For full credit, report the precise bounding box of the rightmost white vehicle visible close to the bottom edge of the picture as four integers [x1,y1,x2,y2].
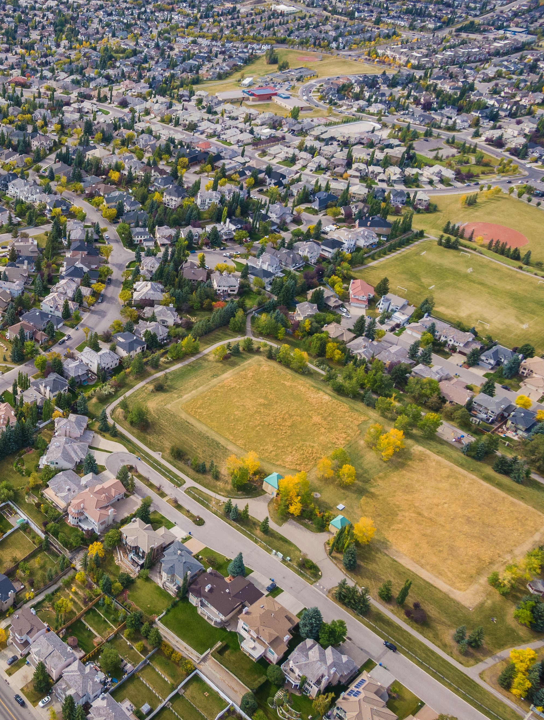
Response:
[37,694,53,708]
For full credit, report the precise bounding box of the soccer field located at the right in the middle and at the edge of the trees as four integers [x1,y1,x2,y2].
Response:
[352,239,544,354]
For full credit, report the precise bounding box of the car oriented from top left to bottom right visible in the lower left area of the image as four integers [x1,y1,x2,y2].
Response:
[12,691,26,707]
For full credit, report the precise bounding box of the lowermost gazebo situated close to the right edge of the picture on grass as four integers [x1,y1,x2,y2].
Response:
[524,577,544,599]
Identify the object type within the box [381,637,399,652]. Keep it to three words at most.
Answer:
car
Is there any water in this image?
No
